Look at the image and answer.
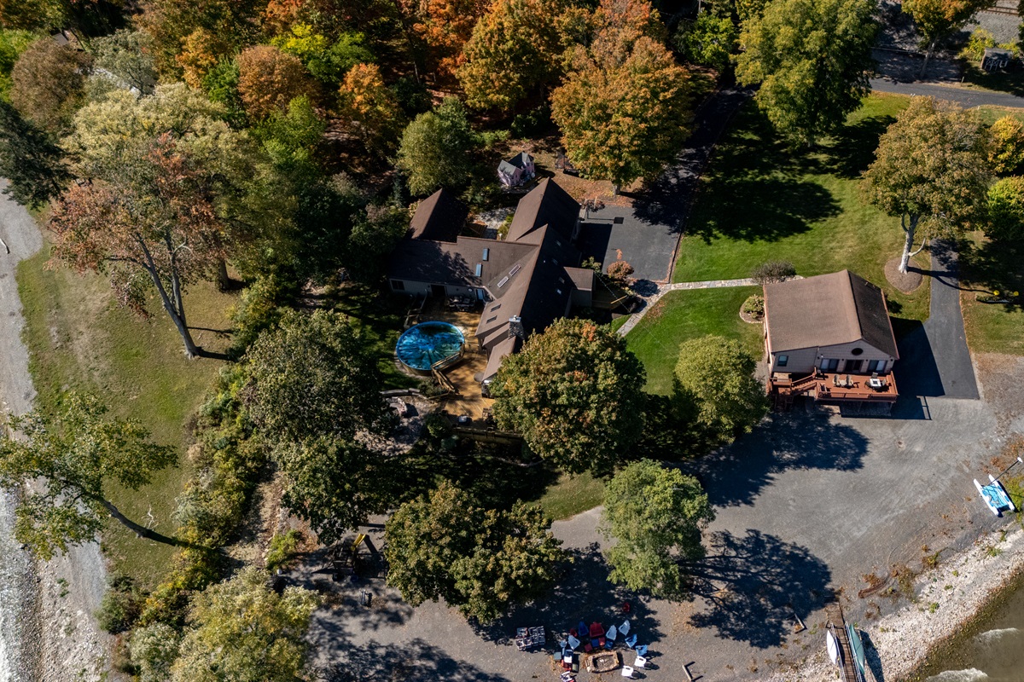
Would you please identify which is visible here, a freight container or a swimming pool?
swimming pool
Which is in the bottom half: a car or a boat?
boat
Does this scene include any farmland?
No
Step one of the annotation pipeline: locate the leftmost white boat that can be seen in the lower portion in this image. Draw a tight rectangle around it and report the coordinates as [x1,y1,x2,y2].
[826,631,839,665]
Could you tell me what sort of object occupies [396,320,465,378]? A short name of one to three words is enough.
swimming pool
